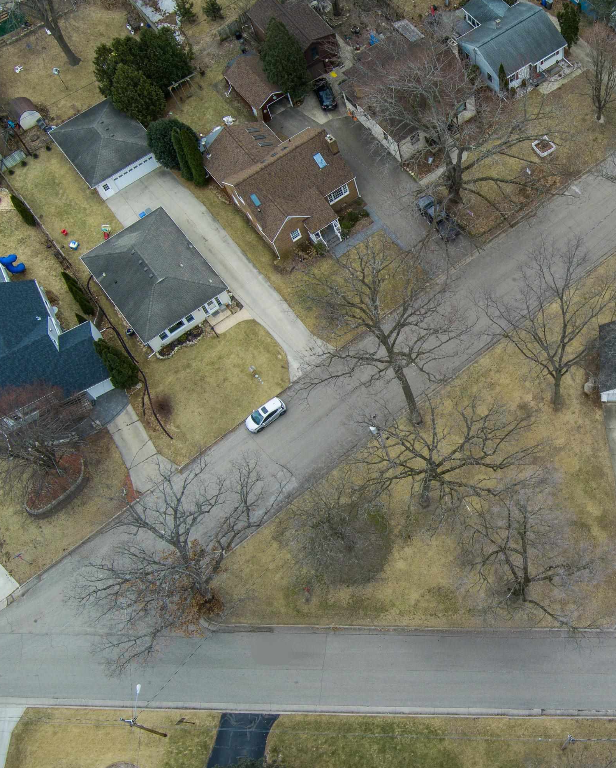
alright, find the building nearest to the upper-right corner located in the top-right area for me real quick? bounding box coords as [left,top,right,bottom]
[432,0,575,92]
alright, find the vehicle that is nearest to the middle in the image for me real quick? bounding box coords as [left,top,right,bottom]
[243,395,290,434]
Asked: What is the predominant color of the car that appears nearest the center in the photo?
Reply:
white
